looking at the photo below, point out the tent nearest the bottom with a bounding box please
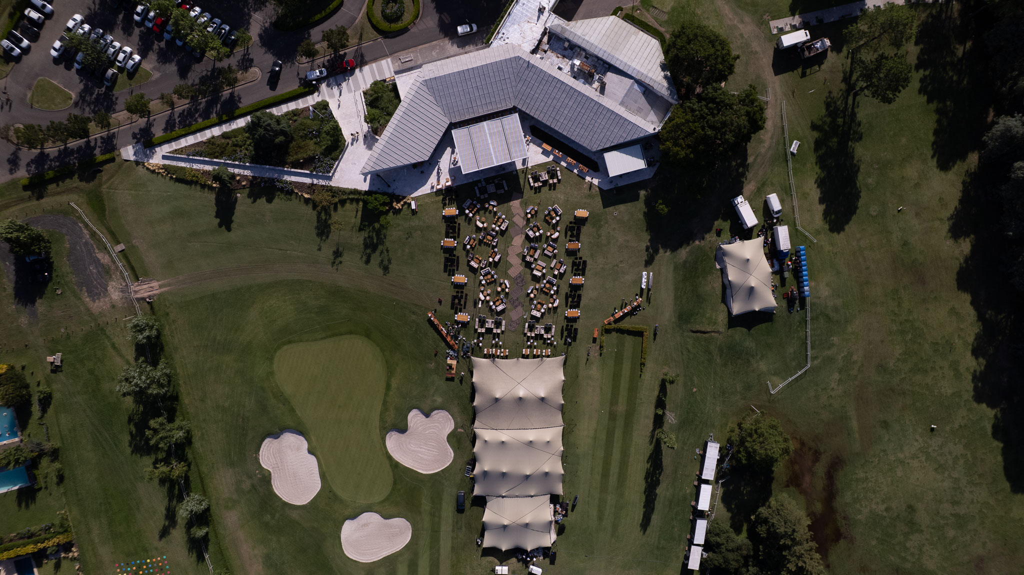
[469,493,559,560]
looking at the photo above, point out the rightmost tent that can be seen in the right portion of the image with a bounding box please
[715,225,786,324]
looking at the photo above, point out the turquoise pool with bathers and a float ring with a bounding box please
[0,405,25,447]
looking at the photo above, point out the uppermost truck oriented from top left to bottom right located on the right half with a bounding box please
[728,193,758,230]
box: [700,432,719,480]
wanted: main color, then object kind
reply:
white trailer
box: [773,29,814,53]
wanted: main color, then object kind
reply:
white truck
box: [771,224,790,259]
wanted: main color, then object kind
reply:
white vehicle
